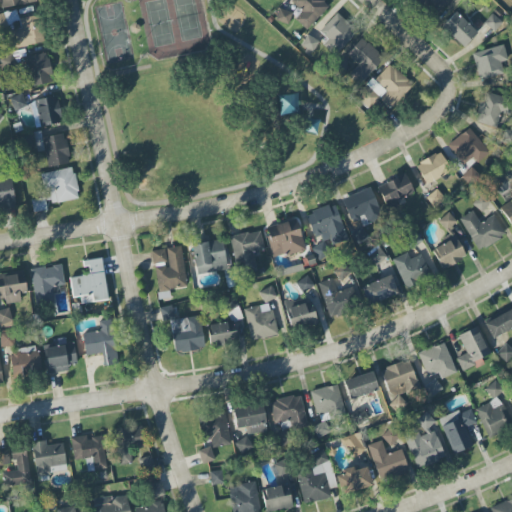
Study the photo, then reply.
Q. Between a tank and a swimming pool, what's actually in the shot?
swimming pool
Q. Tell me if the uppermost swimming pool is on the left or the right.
left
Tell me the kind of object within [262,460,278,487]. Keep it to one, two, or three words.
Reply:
swimming pool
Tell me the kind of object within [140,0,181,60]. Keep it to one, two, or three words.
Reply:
tennis court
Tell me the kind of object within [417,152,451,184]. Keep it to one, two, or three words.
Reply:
house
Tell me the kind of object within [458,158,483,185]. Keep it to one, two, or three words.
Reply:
building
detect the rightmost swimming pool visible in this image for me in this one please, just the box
[447,394,469,410]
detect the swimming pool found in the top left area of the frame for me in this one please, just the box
[17,100,37,130]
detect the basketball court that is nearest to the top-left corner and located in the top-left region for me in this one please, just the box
[96,2,134,63]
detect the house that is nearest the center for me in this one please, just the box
[229,228,265,264]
